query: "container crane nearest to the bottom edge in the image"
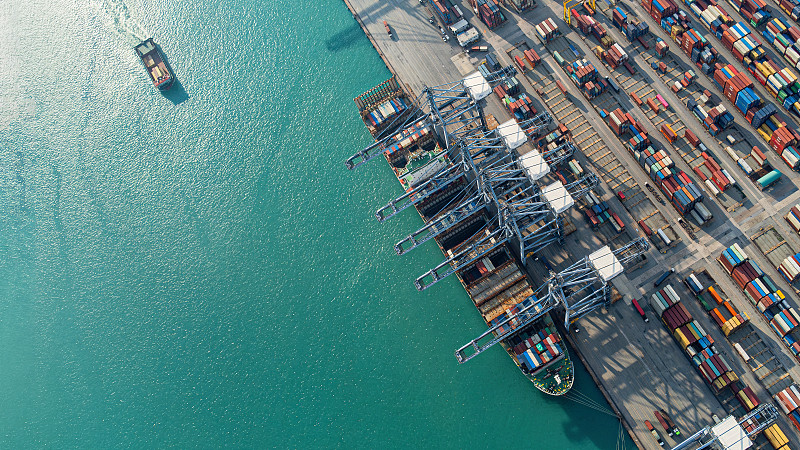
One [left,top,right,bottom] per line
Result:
[675,402,784,450]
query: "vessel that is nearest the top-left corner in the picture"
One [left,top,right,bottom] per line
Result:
[131,34,177,96]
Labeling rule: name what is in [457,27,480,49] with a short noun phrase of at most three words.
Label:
building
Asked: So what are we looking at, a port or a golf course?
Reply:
port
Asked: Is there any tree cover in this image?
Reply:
No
